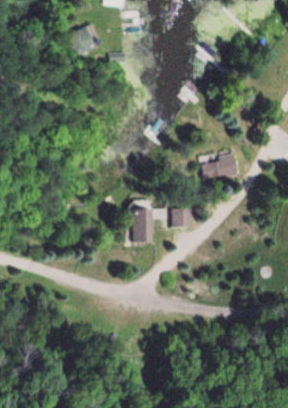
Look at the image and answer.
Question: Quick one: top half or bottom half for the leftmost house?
top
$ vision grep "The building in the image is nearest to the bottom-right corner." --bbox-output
[171,208,191,226]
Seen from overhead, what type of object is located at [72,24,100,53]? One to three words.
house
